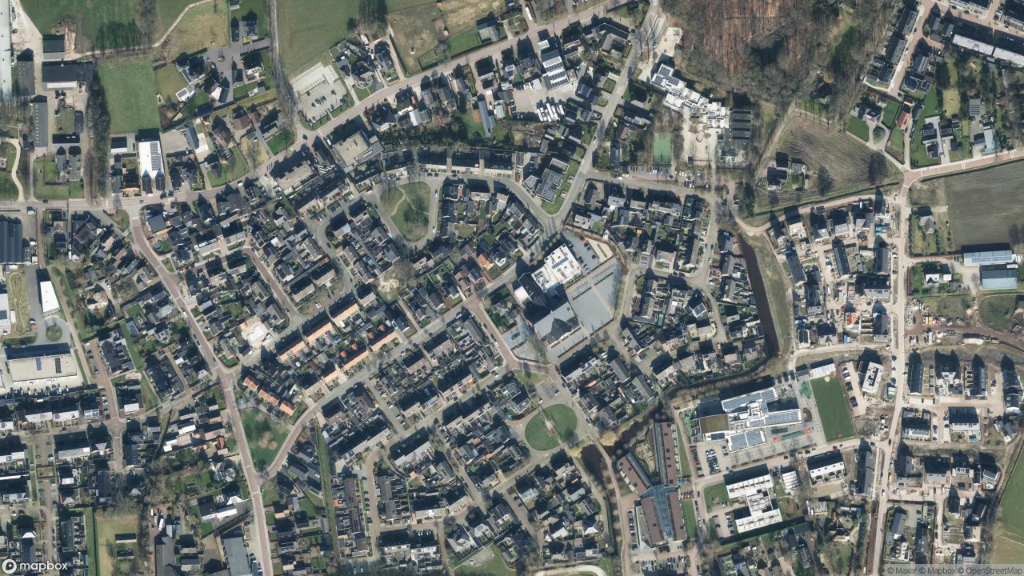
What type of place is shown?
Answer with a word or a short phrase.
residential area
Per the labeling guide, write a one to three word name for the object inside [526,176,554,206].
building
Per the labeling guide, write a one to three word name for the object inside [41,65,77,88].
barn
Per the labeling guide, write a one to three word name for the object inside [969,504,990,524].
house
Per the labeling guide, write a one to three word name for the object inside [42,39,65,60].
barn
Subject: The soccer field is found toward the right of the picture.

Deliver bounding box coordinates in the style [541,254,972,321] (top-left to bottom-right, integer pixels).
[811,376,854,441]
